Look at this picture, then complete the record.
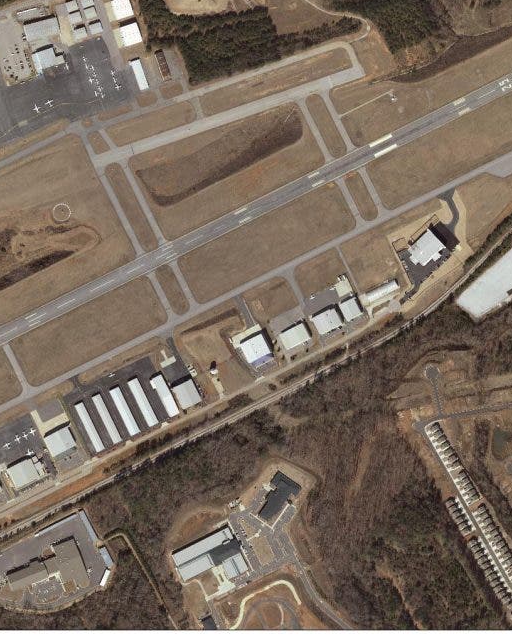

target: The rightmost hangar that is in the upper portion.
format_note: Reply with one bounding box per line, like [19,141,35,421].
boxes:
[407,230,445,266]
